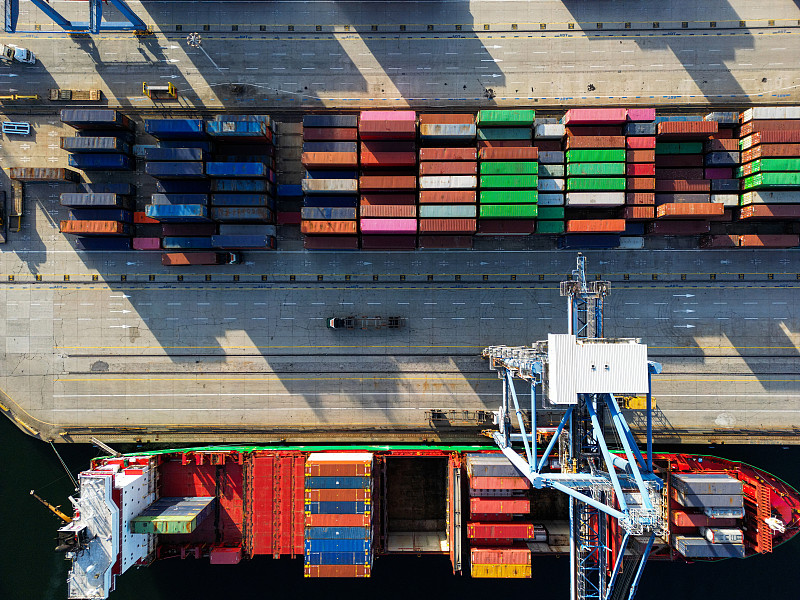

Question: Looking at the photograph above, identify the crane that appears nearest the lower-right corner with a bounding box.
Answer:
[486,251,680,600]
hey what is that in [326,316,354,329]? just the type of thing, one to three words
vehicle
